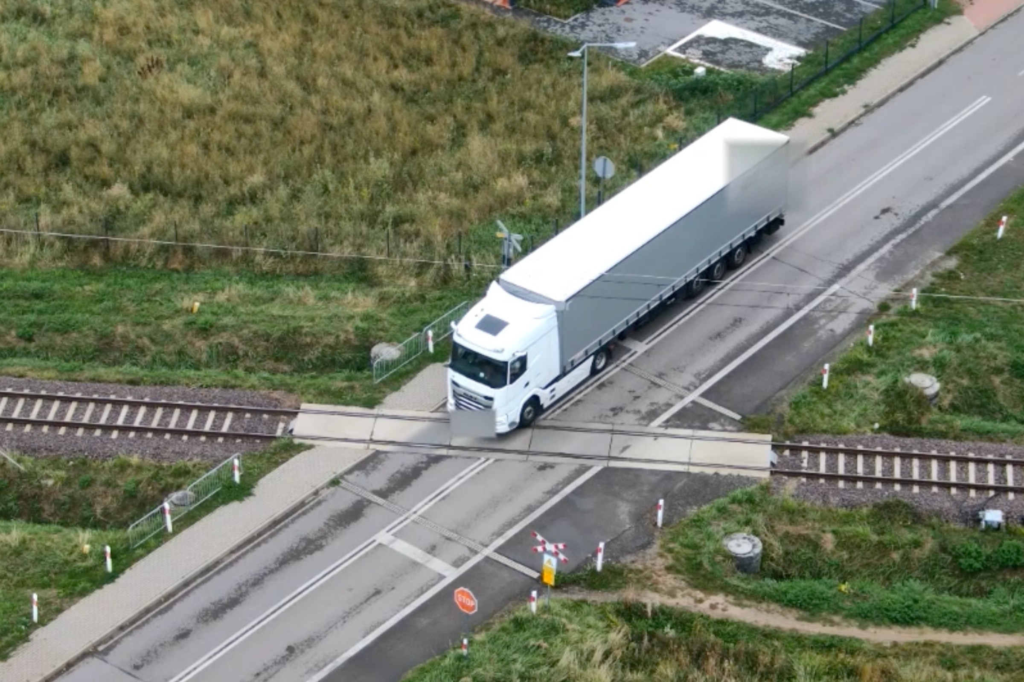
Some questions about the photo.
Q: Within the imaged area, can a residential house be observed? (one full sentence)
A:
No, this view has no residential house in it.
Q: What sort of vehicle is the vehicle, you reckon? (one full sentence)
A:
It looks like the vehicle is a truck.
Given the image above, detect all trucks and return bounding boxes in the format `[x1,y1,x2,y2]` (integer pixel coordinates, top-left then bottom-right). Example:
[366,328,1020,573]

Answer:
[442,117,790,435]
